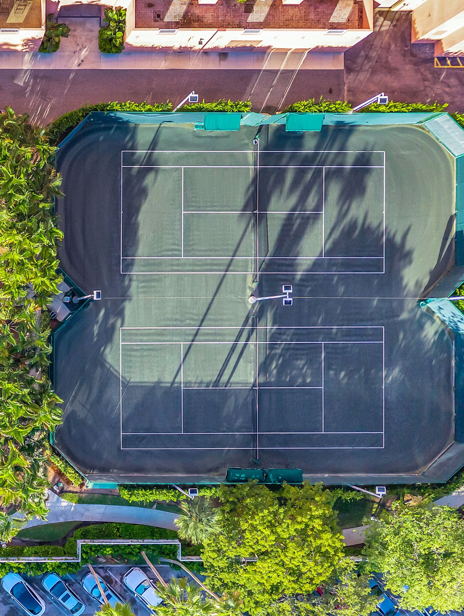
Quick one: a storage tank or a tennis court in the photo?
tennis court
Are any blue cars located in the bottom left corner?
Yes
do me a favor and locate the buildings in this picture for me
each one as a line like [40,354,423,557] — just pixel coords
[412,0,464,58]
[0,0,45,50]
[120,0,374,51]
